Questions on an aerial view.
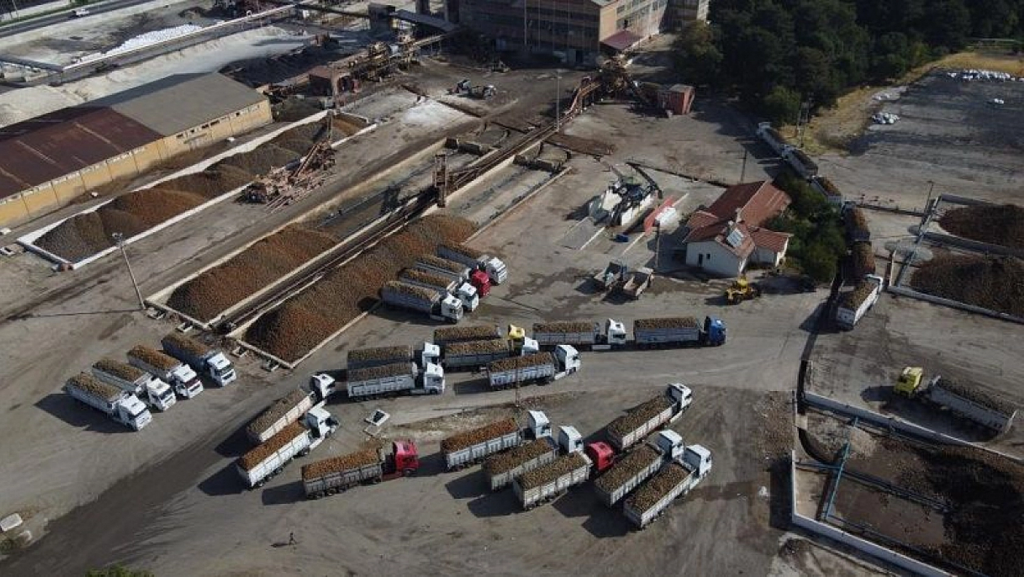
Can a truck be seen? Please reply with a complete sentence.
Yes, a truck can be made out from above.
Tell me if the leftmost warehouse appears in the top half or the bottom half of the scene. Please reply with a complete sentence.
The top half of the photo is where the leftmost warehouse is.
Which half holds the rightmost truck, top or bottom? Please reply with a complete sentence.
It is in the bottom half that the rightmost truck appears.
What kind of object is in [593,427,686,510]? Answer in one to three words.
truck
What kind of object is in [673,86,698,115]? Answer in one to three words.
shed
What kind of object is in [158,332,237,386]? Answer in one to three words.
truck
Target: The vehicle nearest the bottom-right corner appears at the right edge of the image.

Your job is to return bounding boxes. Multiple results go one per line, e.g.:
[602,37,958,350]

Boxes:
[895,373,1015,436]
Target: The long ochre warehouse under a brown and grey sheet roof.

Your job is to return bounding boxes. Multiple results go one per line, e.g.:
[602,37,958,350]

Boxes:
[0,75,264,227]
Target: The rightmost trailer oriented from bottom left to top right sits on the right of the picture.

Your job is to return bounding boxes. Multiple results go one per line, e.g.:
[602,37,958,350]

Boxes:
[837,275,876,324]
